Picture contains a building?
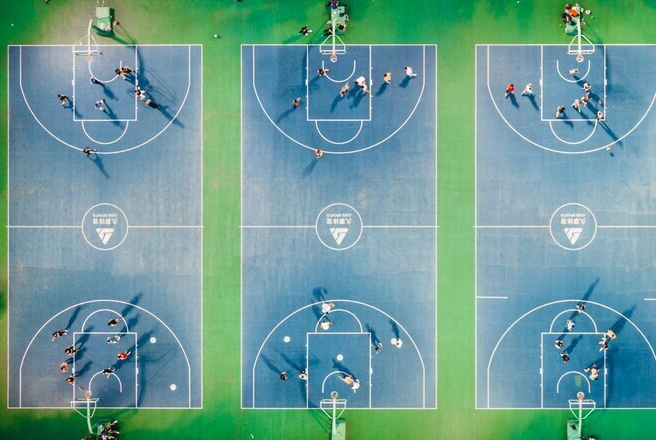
No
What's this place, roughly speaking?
sports ground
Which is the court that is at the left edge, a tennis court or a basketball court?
basketball court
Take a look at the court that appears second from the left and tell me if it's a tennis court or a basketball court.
basketball court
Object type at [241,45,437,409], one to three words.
basketball court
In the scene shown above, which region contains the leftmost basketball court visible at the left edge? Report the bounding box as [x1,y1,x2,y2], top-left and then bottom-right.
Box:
[7,45,203,409]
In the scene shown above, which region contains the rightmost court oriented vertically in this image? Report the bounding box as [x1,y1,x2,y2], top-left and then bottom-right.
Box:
[476,45,656,409]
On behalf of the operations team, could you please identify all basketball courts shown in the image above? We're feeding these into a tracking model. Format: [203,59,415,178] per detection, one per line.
[241,45,437,409]
[7,45,203,409]
[476,45,656,409]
